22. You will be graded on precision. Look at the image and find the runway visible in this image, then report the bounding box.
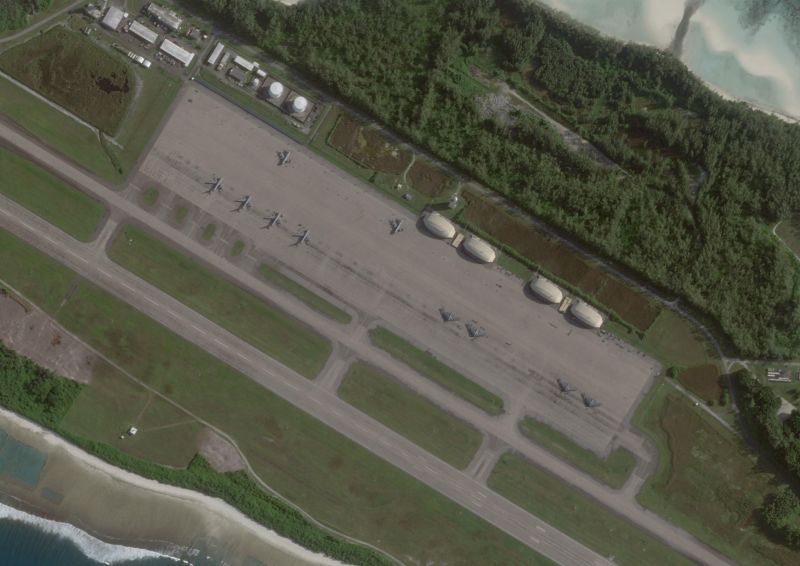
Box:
[0,193,618,566]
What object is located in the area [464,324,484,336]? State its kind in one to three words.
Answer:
airplane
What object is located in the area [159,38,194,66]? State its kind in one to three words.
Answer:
building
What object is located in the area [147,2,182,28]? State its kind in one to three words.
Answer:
building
